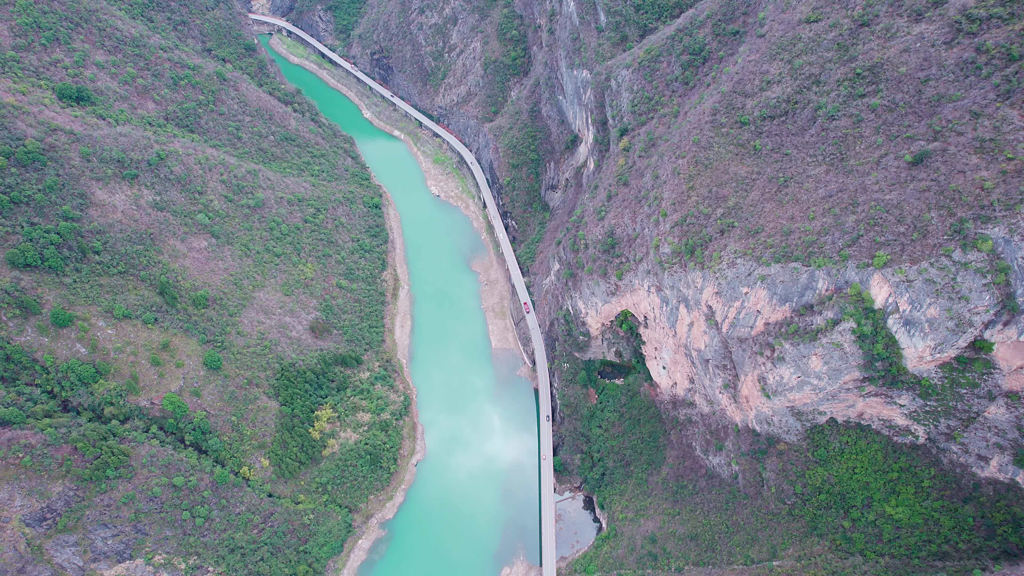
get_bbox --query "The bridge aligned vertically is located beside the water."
[479,184,557,576]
